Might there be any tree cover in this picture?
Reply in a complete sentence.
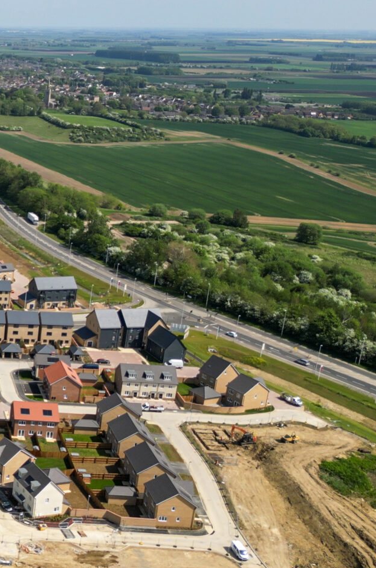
Yes, there's tree cover in this view.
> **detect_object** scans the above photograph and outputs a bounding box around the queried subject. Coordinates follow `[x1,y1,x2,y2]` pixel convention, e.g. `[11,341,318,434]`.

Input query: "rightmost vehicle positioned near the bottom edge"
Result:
[229,534,253,557]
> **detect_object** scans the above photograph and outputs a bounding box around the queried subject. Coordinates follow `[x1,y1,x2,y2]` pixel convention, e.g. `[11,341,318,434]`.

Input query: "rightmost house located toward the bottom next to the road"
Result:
[225,363,272,406]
